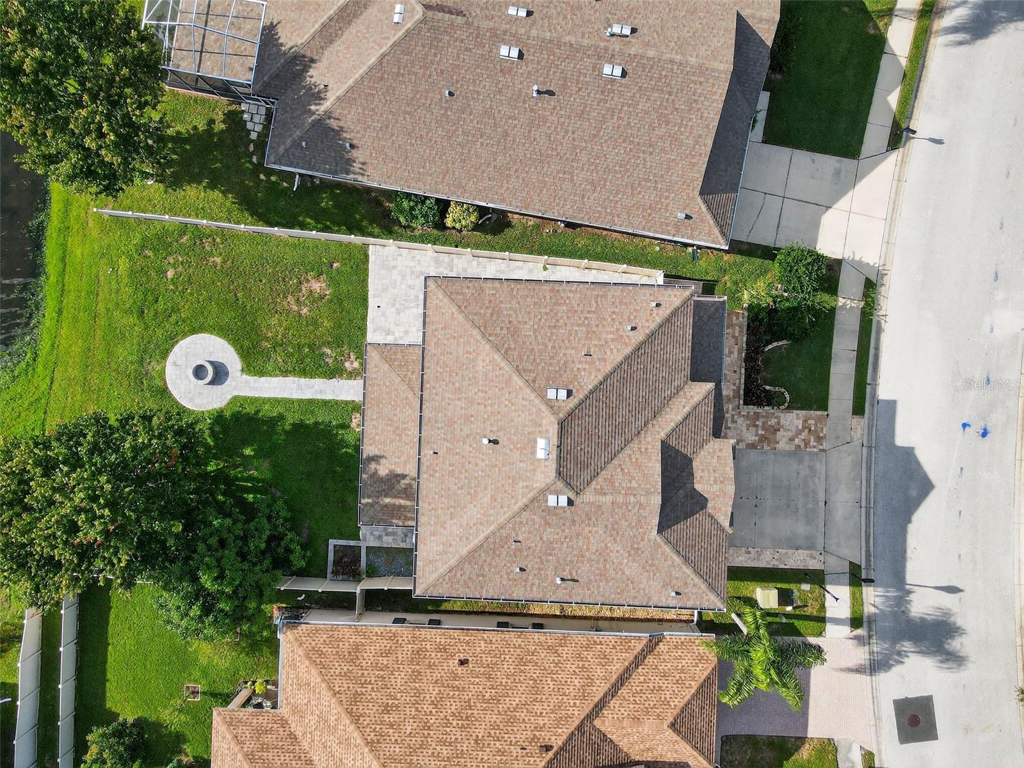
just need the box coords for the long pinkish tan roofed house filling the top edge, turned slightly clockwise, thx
[251,0,784,252]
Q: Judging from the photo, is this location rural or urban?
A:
urban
